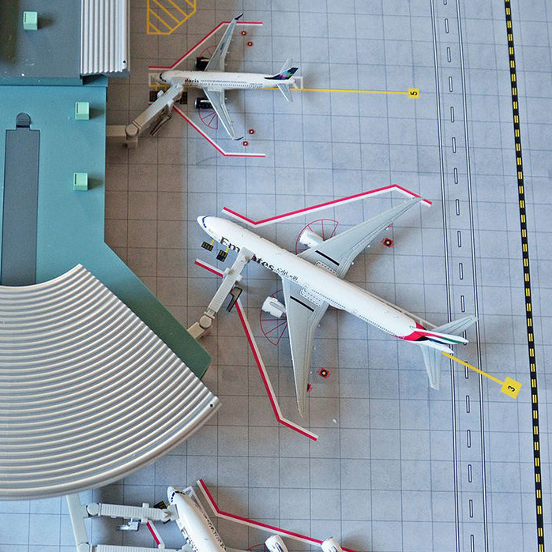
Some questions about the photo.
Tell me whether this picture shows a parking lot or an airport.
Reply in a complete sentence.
The area seen from above is an airport.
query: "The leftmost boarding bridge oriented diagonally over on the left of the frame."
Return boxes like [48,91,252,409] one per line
[107,72,185,154]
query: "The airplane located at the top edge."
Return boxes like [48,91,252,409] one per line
[159,14,298,141]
